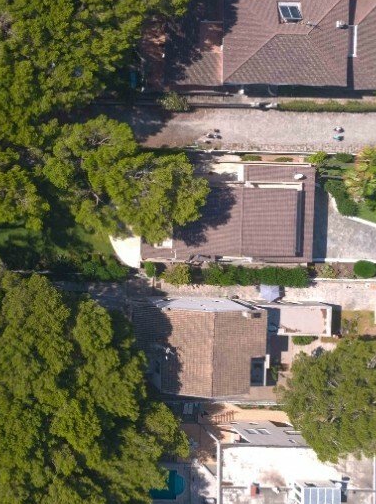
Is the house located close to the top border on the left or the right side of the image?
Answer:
right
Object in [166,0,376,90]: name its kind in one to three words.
house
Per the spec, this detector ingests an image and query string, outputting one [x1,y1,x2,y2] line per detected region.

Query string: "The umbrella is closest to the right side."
[258,285,279,301]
